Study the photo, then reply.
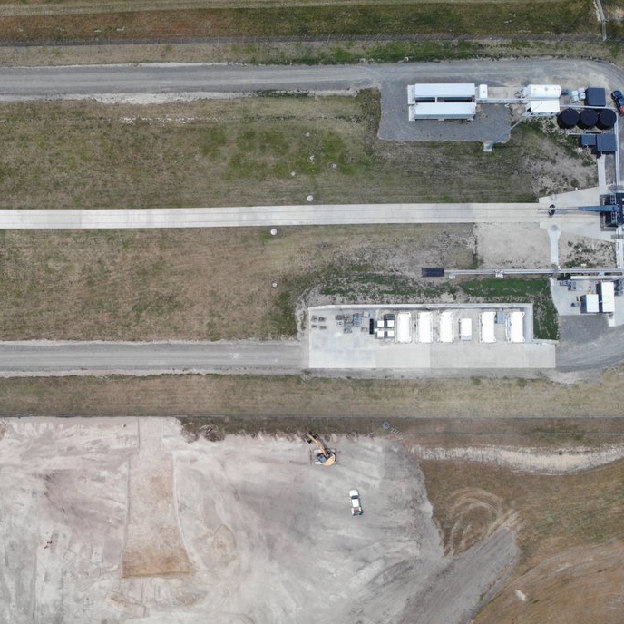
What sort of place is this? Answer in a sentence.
It's an industrial area.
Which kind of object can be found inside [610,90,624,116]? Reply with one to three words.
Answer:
vehicle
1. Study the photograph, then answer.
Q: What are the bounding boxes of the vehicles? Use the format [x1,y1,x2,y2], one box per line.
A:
[350,489,361,516]
[304,431,336,467]
[610,90,624,116]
